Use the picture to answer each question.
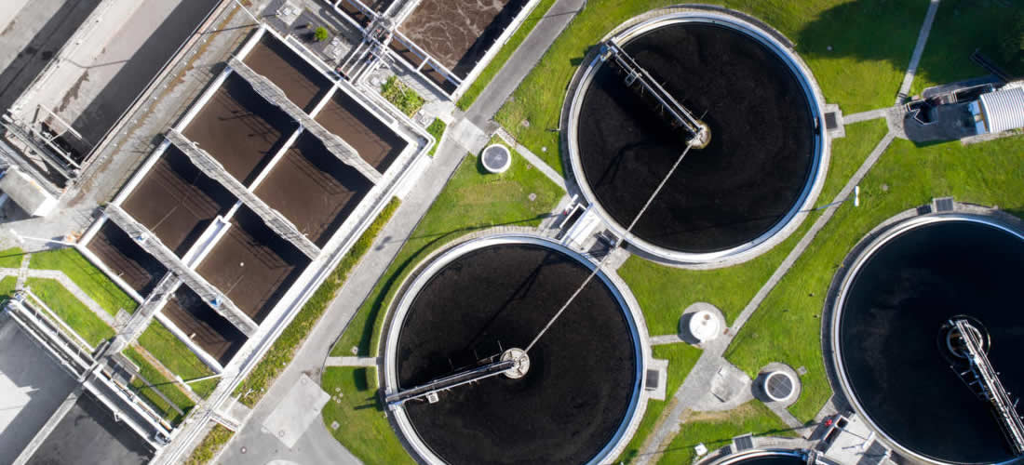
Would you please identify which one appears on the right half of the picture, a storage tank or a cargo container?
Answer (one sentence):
Looking on the right half of the picture, you will find a storage tank.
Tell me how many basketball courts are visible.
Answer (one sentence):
No basketball courts are visible.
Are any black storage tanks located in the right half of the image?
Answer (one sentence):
Yes, a black storage tank shows up in the right half of the image.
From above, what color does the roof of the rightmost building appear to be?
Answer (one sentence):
From above, the roof of the rightmost building looks white.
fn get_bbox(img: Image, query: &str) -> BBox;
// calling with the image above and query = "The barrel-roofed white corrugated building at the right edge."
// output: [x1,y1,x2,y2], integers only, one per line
[968,86,1024,137]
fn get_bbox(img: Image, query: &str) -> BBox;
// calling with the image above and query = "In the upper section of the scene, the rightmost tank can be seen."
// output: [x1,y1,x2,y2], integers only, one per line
[569,9,825,266]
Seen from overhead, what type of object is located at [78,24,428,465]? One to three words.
storage tank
